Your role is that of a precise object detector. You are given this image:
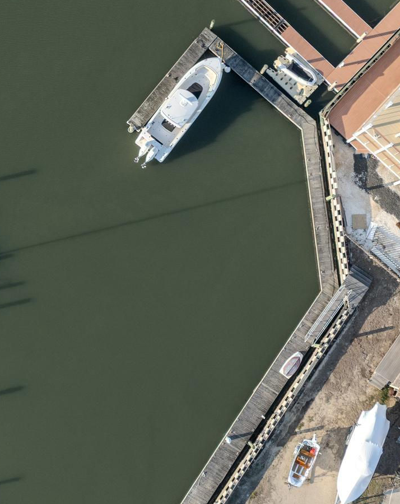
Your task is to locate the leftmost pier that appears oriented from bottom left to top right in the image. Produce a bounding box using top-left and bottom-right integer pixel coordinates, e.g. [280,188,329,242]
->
[127,28,217,132]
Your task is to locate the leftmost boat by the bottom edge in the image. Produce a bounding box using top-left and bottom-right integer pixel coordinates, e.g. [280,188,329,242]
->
[291,439,322,494]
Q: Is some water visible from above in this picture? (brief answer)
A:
Yes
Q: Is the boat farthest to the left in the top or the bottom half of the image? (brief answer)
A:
top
